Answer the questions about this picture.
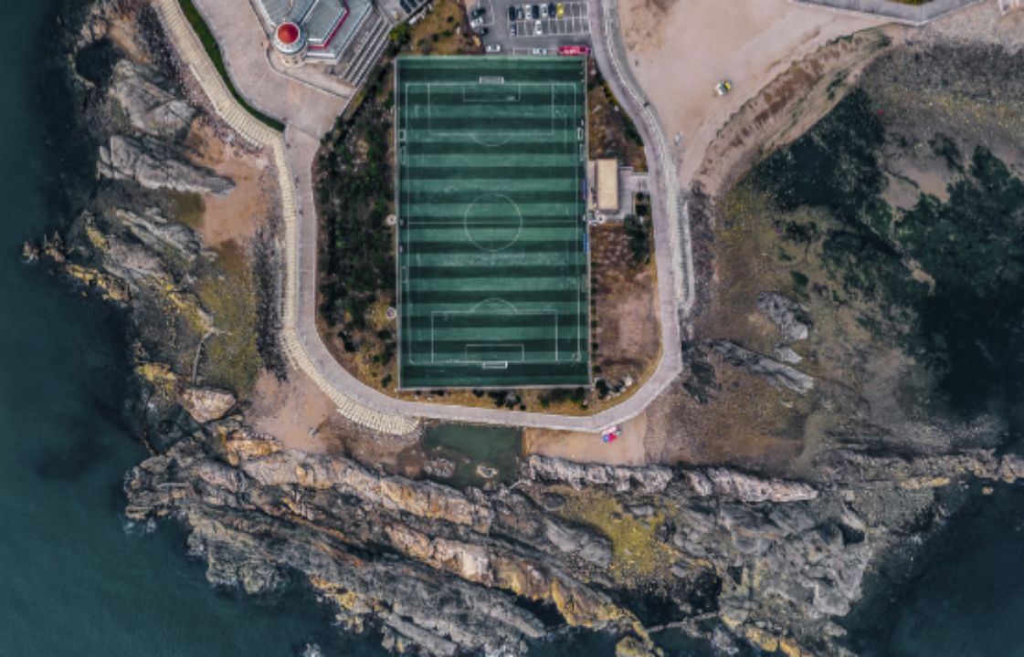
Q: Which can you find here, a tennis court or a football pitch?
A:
football pitch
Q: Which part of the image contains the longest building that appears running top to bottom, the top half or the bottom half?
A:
top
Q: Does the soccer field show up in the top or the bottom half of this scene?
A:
top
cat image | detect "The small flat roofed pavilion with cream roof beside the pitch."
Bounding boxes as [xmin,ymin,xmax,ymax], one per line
[597,158,619,211]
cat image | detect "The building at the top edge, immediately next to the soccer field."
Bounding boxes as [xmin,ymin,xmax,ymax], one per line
[249,0,378,67]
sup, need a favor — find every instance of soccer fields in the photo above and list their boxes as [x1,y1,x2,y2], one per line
[398,55,589,388]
